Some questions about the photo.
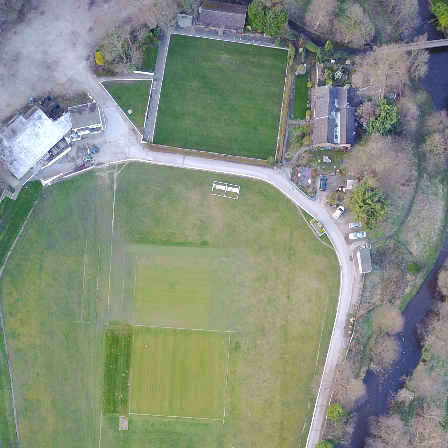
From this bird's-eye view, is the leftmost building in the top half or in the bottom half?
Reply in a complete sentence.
You can find the leftmost building in the top half.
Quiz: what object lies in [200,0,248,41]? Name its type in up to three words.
building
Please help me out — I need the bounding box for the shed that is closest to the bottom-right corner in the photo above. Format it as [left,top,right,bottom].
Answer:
[353,248,372,274]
